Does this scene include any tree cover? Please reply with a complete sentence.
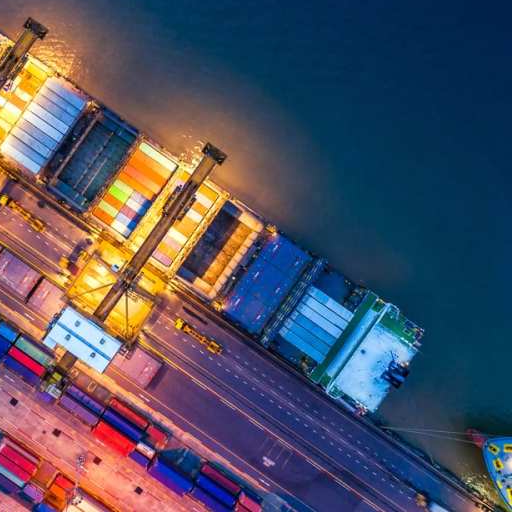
No, the picture contains no tree cover.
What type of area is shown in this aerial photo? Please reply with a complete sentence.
This looks like a port.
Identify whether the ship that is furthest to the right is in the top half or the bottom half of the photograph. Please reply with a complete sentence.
Seen from above, the ship that is furthest to the right lies in the bottom half of the view.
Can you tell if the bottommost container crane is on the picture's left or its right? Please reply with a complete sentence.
It is on the left.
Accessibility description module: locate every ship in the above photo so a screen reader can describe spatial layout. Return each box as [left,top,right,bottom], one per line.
[453,429,512,510]
[0,34,424,410]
